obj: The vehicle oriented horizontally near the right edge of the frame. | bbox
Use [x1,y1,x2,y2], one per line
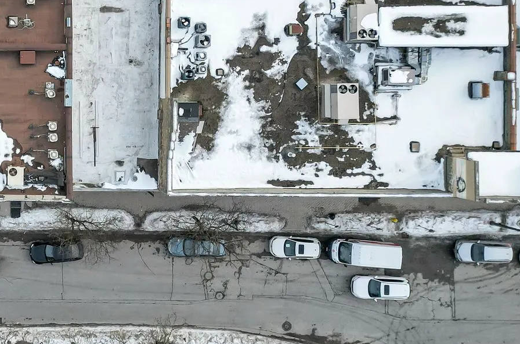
[451,238,515,266]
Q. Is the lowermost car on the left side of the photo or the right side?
right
